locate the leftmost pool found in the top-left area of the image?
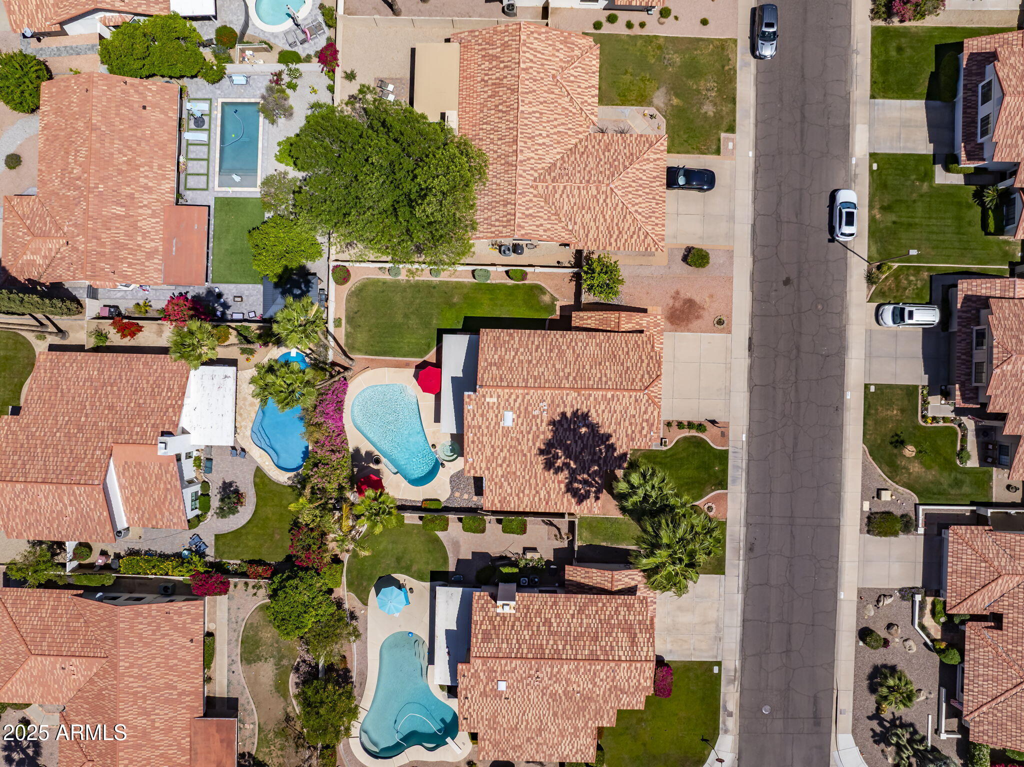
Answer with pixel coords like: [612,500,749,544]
[213,98,264,192]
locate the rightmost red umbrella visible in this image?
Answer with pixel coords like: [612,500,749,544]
[416,366,442,394]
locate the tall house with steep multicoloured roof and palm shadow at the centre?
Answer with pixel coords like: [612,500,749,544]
[440,312,665,514]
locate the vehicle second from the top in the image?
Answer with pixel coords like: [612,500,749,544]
[666,166,715,192]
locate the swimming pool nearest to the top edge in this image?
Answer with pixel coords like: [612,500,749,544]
[249,0,312,32]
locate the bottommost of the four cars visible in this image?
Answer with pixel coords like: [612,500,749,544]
[875,303,940,329]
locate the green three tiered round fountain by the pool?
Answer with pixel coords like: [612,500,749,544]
[438,440,460,462]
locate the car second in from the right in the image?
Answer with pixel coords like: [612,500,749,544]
[832,189,859,242]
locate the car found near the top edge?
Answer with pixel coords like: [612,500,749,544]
[752,3,779,61]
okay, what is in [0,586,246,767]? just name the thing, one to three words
house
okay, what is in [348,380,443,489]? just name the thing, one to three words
swimming pool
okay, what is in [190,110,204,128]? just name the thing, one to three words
umbrella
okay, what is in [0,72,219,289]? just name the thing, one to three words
house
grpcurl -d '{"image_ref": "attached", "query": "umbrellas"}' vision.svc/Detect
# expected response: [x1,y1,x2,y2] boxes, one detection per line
[356,472,384,499]
[190,110,204,128]
[287,6,309,35]
[416,366,442,394]
[378,585,407,615]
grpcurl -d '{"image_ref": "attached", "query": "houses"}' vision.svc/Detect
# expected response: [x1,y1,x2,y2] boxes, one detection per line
[950,30,1024,238]
[0,72,219,289]
[0,352,245,544]
[414,22,669,252]
[434,565,660,763]
[936,525,1024,754]
[0,586,246,767]
[3,0,222,34]
[440,312,665,514]
[944,277,1024,481]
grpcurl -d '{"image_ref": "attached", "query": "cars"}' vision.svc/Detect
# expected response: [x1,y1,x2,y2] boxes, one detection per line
[752,3,779,61]
[666,166,715,192]
[832,189,859,242]
[875,303,940,329]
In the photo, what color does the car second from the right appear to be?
white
